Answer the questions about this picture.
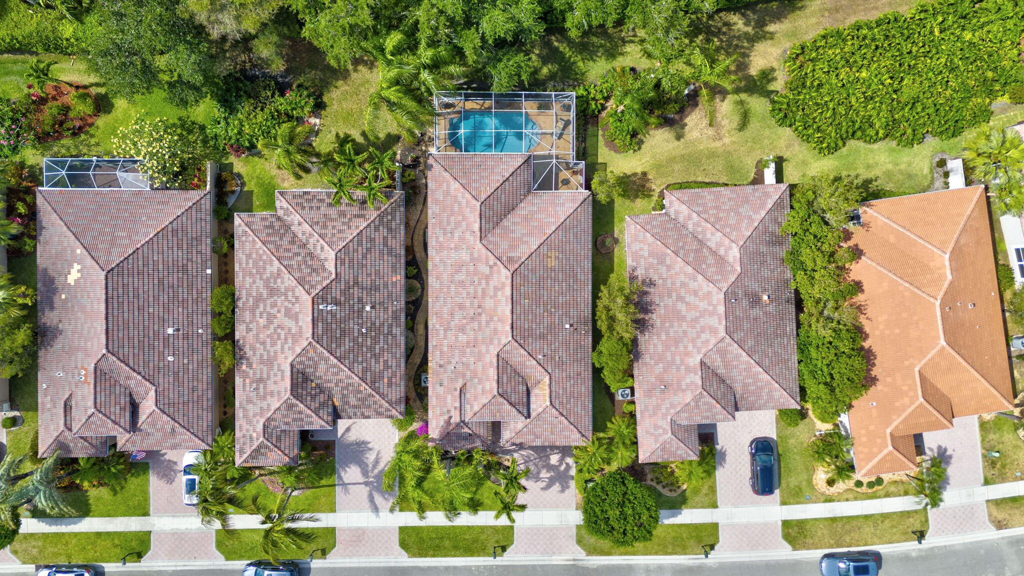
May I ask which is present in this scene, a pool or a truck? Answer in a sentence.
The image shows a pool.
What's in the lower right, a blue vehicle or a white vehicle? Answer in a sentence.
There is a blue vehicle in the lower right.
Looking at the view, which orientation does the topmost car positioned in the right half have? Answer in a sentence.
In this picture, the topmost car positioned in the right half is oriented up and down.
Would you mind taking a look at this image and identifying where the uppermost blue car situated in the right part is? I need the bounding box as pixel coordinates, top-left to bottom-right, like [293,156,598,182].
[747,435,779,496]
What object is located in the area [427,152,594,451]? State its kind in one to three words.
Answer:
house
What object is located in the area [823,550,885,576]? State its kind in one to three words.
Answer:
car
